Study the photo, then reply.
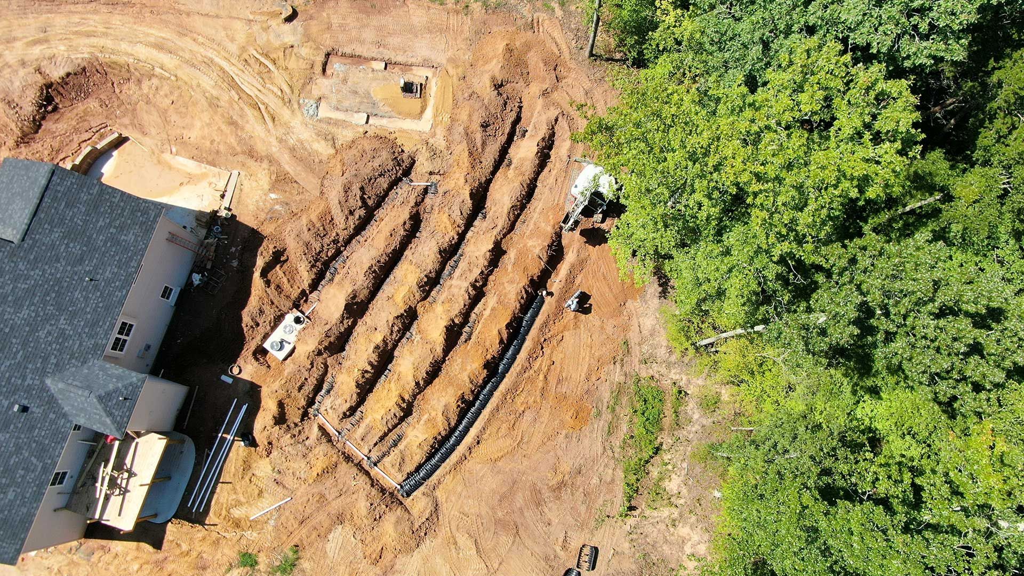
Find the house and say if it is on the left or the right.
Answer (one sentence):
The house is on the left side of the image.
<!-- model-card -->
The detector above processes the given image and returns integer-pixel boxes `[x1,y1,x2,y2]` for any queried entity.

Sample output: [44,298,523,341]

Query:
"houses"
[0,149,202,565]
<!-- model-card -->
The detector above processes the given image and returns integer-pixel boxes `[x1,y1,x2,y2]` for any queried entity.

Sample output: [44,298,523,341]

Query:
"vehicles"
[560,155,614,238]
[397,72,421,97]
